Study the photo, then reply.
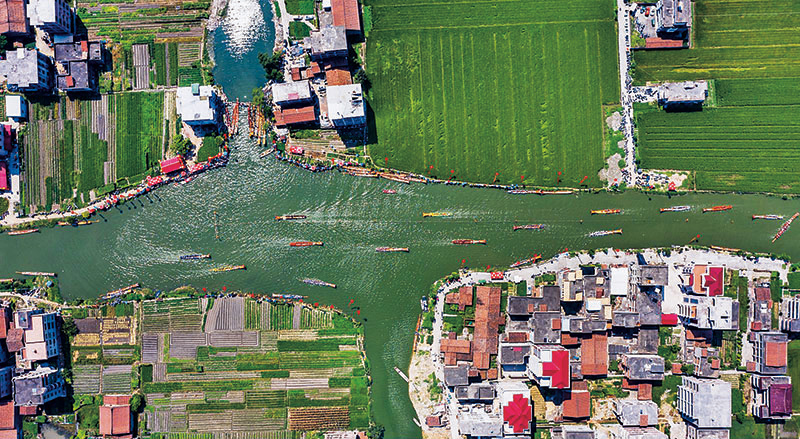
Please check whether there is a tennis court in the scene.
No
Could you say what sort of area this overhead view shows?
residential area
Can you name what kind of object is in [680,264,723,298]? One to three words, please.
house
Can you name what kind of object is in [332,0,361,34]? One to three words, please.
building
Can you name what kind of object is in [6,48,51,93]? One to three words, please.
house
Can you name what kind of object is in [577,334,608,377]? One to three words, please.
building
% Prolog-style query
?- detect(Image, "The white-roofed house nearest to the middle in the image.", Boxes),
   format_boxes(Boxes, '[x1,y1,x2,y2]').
[327,84,367,128]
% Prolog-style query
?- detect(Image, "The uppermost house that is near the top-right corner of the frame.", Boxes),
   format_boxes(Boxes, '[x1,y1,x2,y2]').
[652,0,691,33]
